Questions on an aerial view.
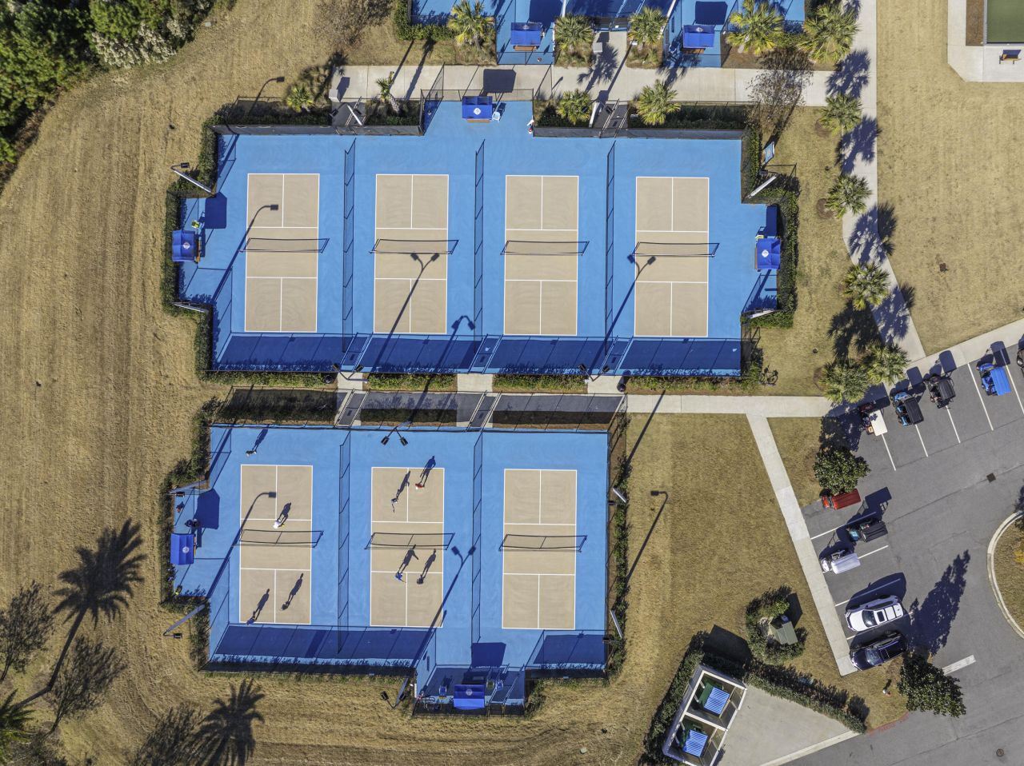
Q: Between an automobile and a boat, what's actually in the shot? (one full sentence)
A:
It is an automobile that can be seen here.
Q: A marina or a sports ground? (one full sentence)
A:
It's a sports ground.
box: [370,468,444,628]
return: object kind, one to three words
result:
sports court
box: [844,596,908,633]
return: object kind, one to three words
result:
car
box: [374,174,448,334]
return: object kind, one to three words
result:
sports court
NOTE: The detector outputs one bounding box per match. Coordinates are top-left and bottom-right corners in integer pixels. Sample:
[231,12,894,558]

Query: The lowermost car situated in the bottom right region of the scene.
[850,630,911,669]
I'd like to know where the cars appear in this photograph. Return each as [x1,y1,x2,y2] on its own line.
[844,596,908,633]
[850,630,911,669]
